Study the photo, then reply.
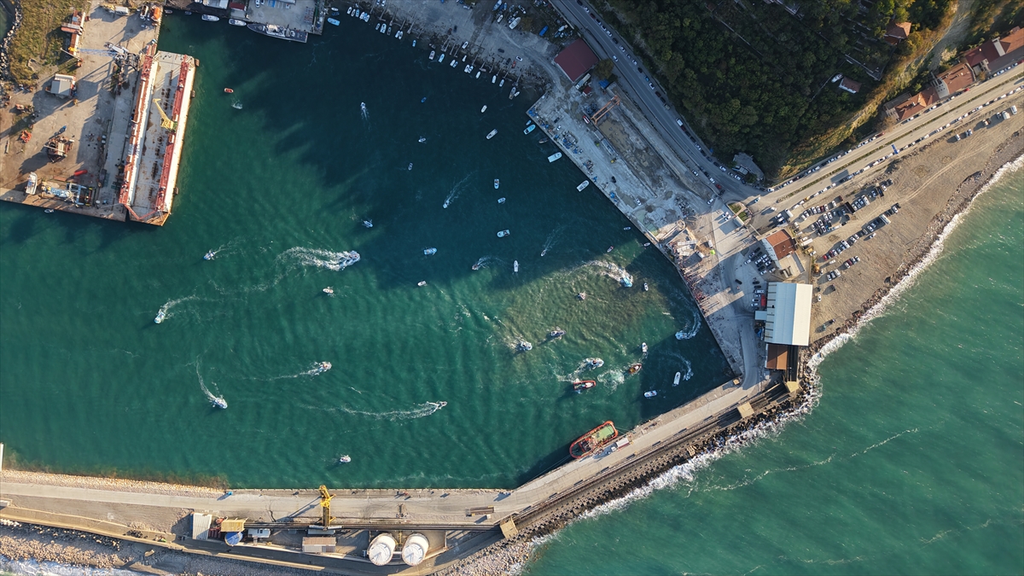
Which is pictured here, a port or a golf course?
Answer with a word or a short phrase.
port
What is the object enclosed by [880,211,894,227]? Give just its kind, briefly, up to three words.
vehicle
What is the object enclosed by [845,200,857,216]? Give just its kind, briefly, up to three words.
vehicle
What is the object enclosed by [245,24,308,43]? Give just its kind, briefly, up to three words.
ship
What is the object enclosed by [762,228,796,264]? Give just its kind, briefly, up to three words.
building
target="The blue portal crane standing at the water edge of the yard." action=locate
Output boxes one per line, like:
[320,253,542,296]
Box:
[43,183,88,208]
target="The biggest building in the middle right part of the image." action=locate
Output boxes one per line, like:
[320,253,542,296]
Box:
[764,282,813,346]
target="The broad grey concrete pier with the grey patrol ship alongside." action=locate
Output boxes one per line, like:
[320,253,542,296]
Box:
[229,0,327,37]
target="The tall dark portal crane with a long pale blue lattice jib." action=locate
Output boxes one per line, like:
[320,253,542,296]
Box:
[78,46,140,71]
